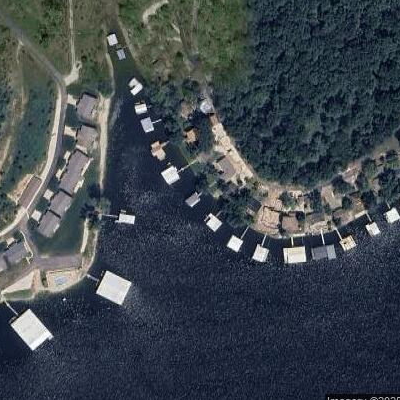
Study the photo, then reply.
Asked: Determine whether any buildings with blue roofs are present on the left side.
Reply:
No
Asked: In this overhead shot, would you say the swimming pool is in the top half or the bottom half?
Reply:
bottom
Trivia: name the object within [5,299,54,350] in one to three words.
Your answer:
pier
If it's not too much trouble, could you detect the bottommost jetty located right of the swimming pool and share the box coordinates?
[87,269,132,304]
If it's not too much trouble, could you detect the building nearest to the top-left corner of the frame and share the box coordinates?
[78,96,99,121]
